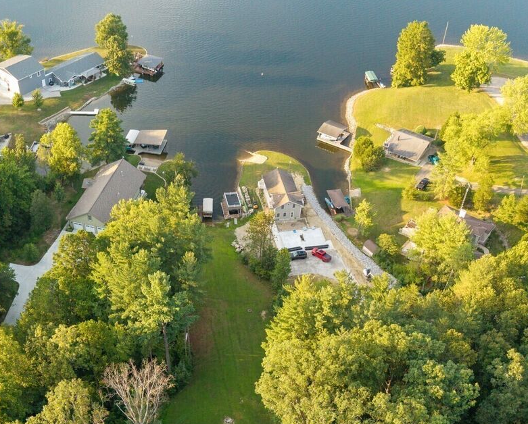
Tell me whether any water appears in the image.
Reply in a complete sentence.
Yes, there is water in the image.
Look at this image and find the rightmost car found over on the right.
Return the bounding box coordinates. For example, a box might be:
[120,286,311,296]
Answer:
[416,175,431,189]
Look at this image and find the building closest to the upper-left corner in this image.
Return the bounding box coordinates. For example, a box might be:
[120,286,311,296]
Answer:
[0,54,49,96]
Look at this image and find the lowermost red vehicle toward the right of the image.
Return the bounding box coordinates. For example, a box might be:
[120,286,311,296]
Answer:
[309,246,335,263]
